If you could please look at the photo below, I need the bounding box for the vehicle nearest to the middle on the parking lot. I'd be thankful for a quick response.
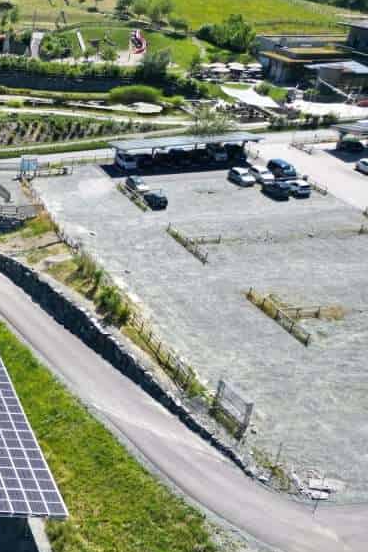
[140,192,172,208]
